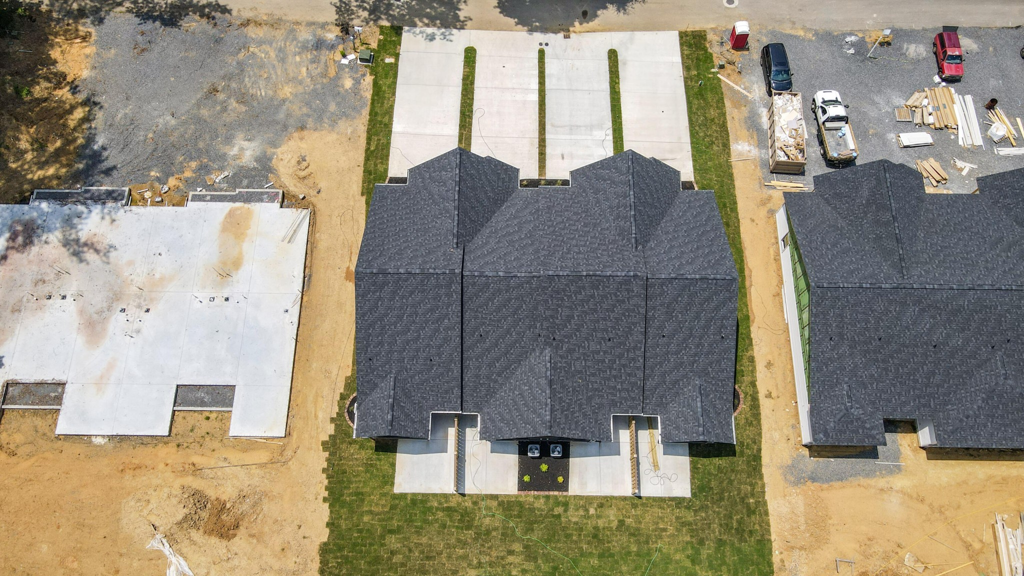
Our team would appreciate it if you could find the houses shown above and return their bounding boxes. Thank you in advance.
[773,160,1024,447]
[352,148,737,444]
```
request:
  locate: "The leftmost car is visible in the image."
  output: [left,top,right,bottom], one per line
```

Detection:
[761,44,794,93]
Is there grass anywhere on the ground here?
Yes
